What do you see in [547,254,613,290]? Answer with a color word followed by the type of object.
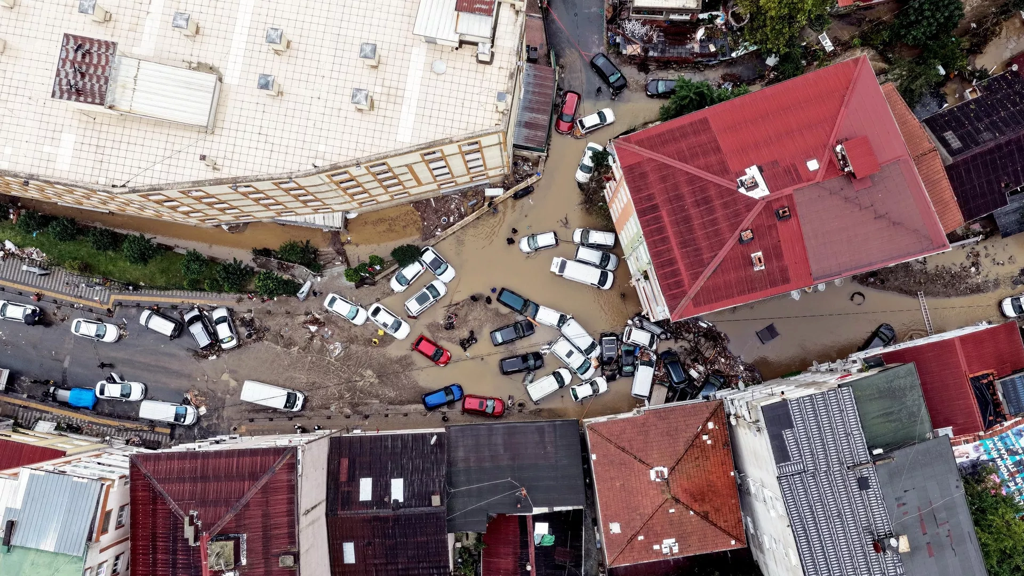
white van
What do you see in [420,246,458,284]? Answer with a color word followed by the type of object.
white car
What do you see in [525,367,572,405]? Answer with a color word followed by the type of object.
white van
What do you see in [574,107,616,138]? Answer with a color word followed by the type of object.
white car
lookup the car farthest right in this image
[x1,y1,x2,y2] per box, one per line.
[996,291,1024,317]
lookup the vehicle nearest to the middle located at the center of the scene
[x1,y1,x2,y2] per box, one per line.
[496,288,537,322]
